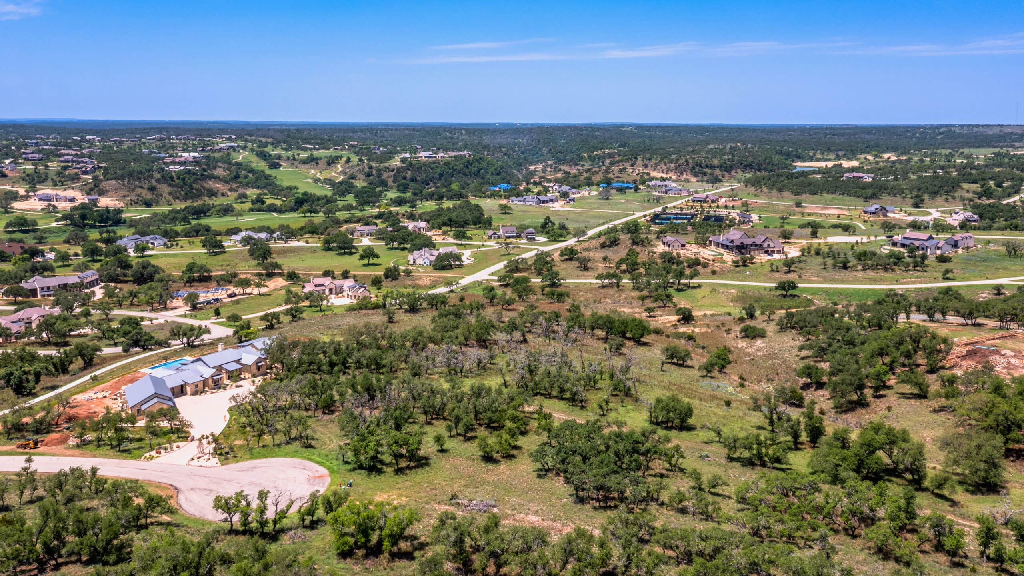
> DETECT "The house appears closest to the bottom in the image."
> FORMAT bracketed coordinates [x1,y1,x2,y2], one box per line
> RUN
[125,336,274,422]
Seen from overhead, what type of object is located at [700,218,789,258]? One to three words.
house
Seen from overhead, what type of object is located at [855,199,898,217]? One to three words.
house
